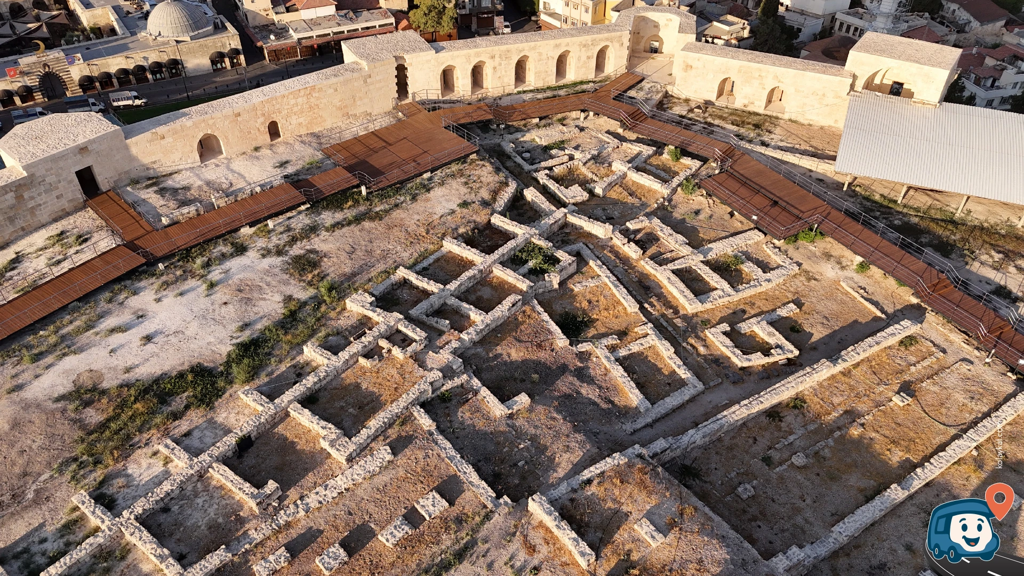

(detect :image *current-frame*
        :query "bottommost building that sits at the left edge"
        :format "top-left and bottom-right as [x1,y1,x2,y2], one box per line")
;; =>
[0,112,138,222]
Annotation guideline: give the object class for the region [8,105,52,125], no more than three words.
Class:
vehicle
